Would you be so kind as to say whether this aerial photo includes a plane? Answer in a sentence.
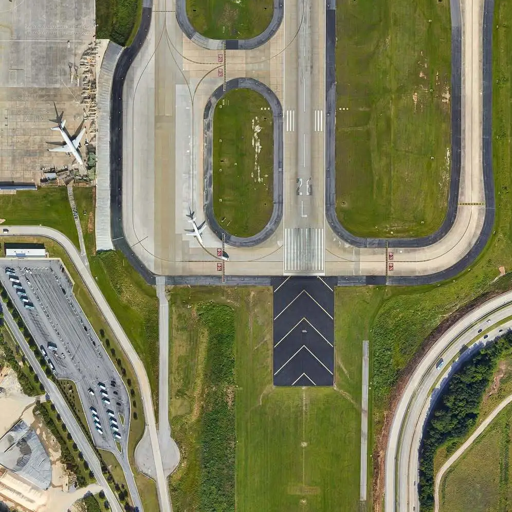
Yes, there is a plane in the image.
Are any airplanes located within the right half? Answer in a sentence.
No, there is no airplane within the right half.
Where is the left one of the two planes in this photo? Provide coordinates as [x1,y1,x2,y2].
[49,121,87,164]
